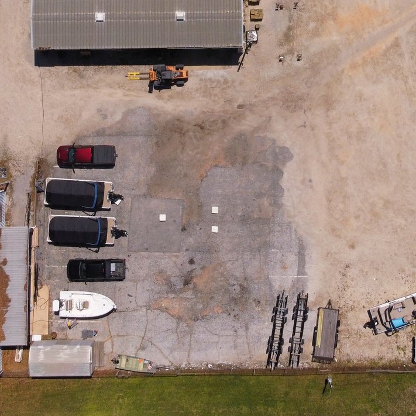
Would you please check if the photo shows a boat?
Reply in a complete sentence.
Yes, this view includes a boat.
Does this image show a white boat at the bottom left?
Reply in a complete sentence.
Yes, a white boat can be seen at the bottom left.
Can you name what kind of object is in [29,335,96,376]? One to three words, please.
shed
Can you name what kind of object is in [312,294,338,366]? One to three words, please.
trailer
